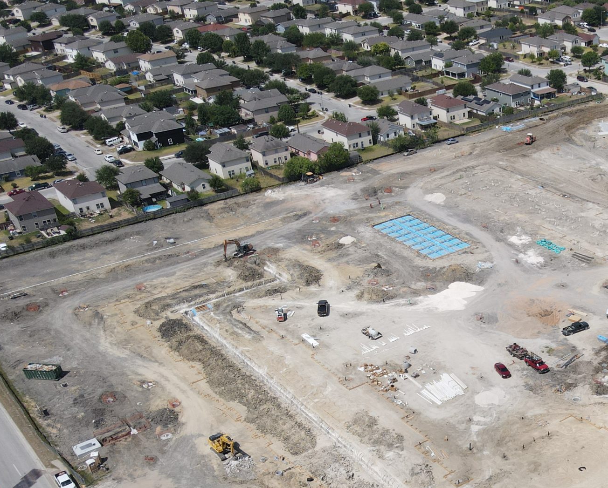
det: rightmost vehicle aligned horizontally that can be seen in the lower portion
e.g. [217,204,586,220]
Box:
[563,323,588,335]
